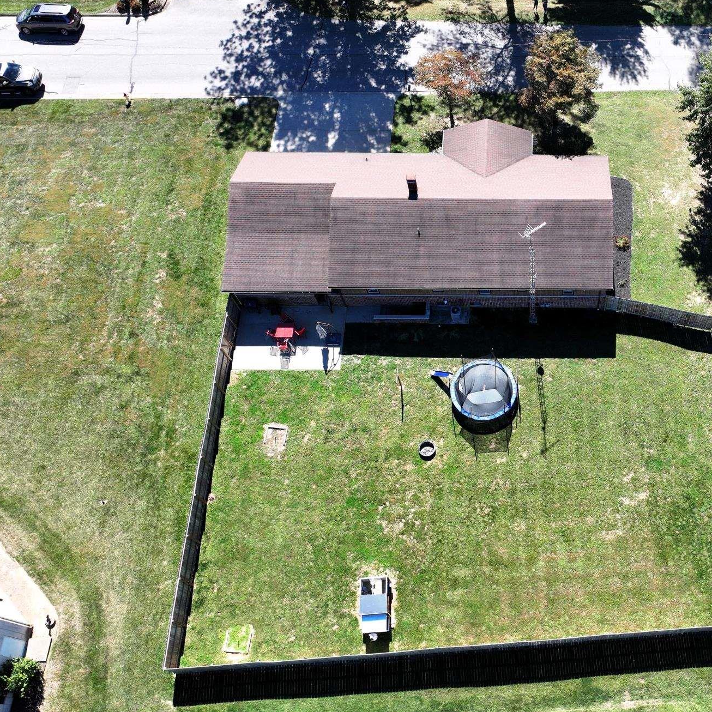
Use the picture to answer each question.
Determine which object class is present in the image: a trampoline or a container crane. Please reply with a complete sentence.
The image shows a trampoline.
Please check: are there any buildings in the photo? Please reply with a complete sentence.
Yes, there is a building in the image.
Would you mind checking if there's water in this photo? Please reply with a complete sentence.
No, water can't be seen anywhere here.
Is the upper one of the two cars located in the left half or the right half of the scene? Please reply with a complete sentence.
The upper one of the two cars sits on the left side.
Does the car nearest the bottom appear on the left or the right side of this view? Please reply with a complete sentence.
It is on the left.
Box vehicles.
[11,7,88,43]
[0,63,50,97]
